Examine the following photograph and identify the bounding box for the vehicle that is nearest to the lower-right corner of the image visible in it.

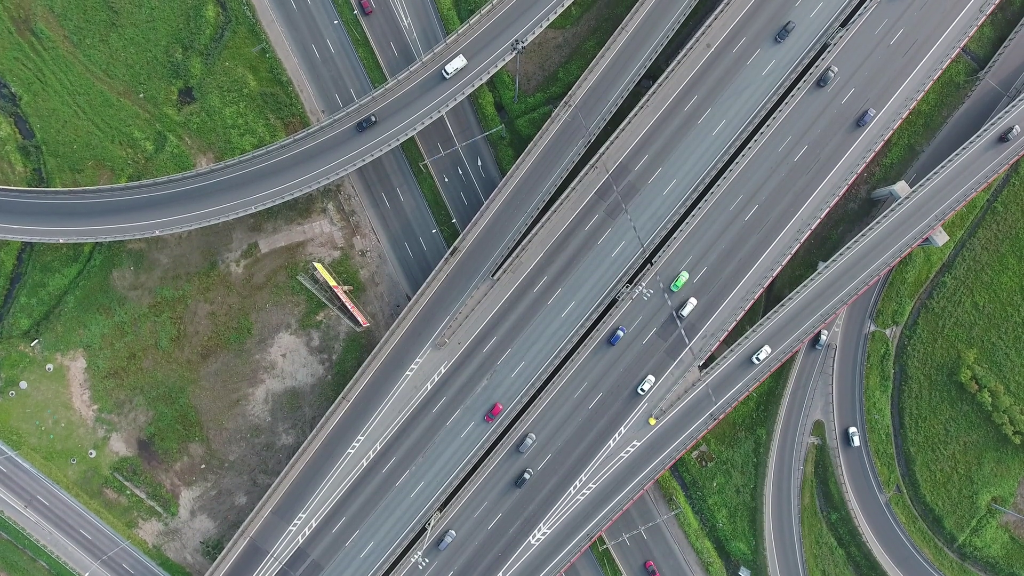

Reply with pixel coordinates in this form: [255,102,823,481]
[846,426,859,447]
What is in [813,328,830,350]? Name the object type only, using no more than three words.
car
